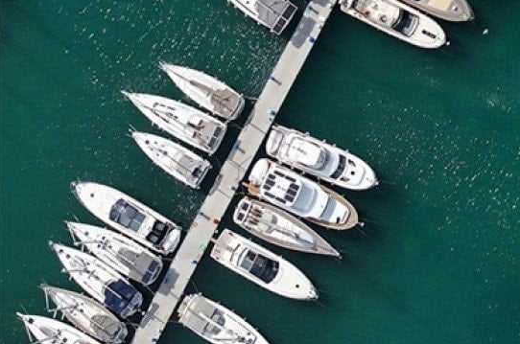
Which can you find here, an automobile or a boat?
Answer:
boat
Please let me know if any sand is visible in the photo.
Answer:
No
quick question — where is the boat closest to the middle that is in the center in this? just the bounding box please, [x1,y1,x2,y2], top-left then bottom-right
[246,159,269,183]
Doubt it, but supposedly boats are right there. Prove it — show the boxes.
[158,53,257,120]
[341,0,455,57]
[14,310,100,344]
[38,272,133,344]
[62,175,189,253]
[249,116,391,189]
[108,79,239,151]
[231,152,362,232]
[197,224,337,316]
[165,275,272,344]
[62,212,168,291]
[162,228,181,253]
[47,230,149,316]
[246,159,269,183]
[233,0,299,31]
[404,0,478,20]
[222,191,358,266]
[129,132,218,198]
